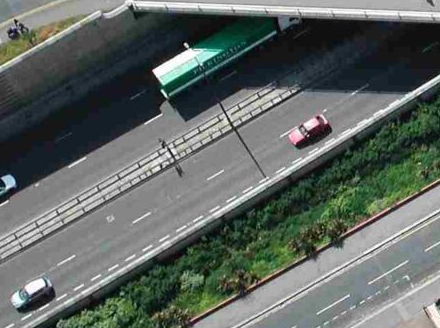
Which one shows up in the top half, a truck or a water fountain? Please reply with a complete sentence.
The one visible in the top half is a truck.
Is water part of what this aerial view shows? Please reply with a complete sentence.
No, there is no water in the image.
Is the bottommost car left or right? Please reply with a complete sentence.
The bottommost car sits on the left side.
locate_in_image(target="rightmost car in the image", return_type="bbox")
[290,115,329,147]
